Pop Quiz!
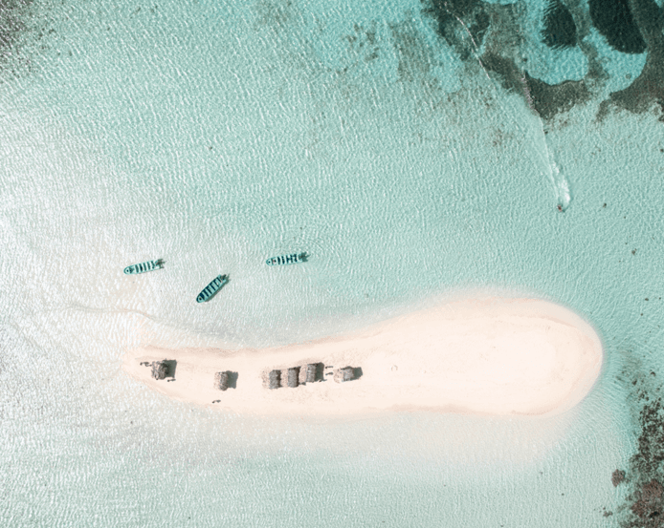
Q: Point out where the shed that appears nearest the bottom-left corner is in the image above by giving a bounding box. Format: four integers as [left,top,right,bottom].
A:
[149,359,170,380]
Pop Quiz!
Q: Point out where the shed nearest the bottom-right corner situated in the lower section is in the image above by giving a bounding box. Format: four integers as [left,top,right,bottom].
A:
[331,366,358,383]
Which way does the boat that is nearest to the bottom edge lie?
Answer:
at an angle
